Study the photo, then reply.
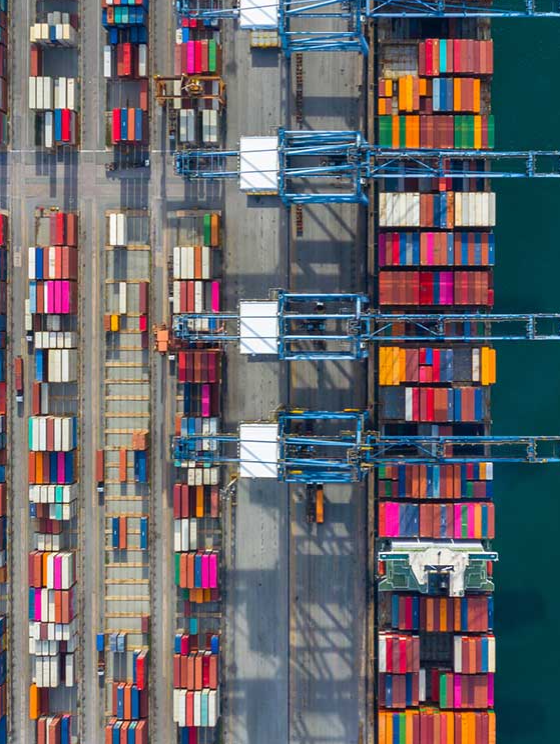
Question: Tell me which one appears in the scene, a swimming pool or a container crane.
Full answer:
Looking from above, you can make out a container crane.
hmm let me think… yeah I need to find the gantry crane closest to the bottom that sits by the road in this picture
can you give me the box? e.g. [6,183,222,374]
[173,392,560,486]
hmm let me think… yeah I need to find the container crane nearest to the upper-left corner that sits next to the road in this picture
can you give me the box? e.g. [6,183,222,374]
[153,73,229,111]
